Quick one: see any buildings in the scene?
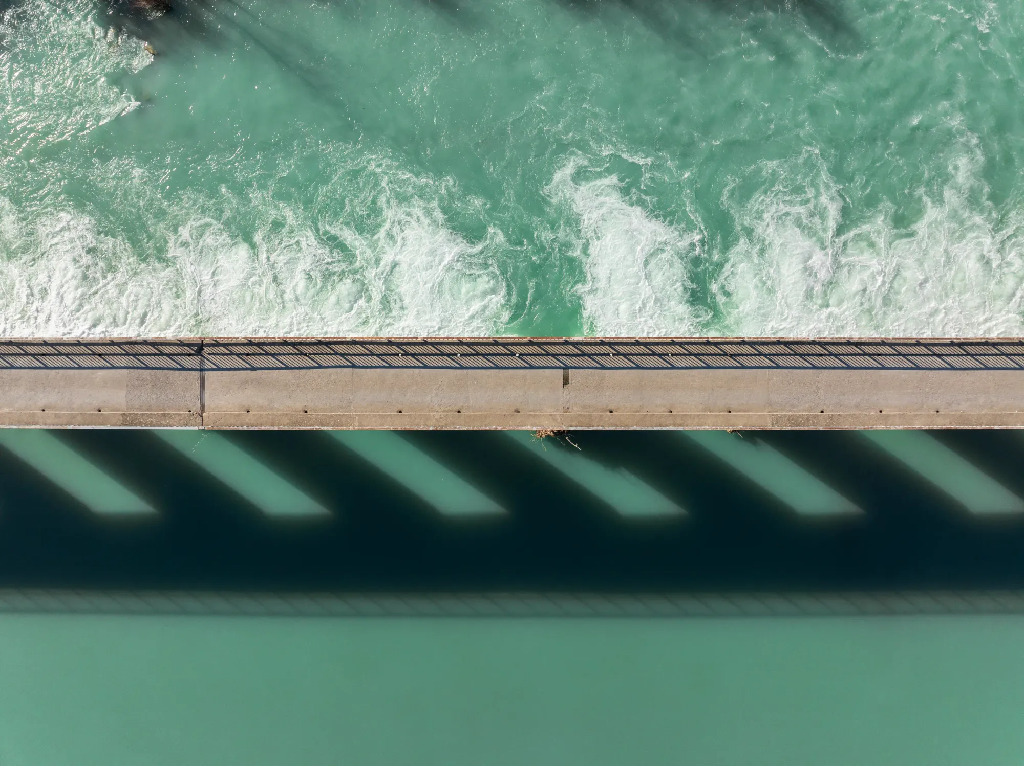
No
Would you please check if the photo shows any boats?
No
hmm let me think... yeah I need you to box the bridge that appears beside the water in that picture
[0,339,1024,428]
